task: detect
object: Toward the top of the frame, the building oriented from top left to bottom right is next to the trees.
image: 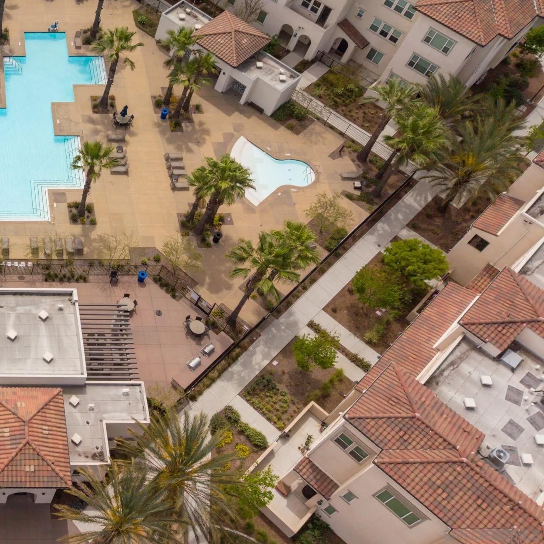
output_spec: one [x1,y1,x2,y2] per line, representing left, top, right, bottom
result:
[155,0,312,120]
